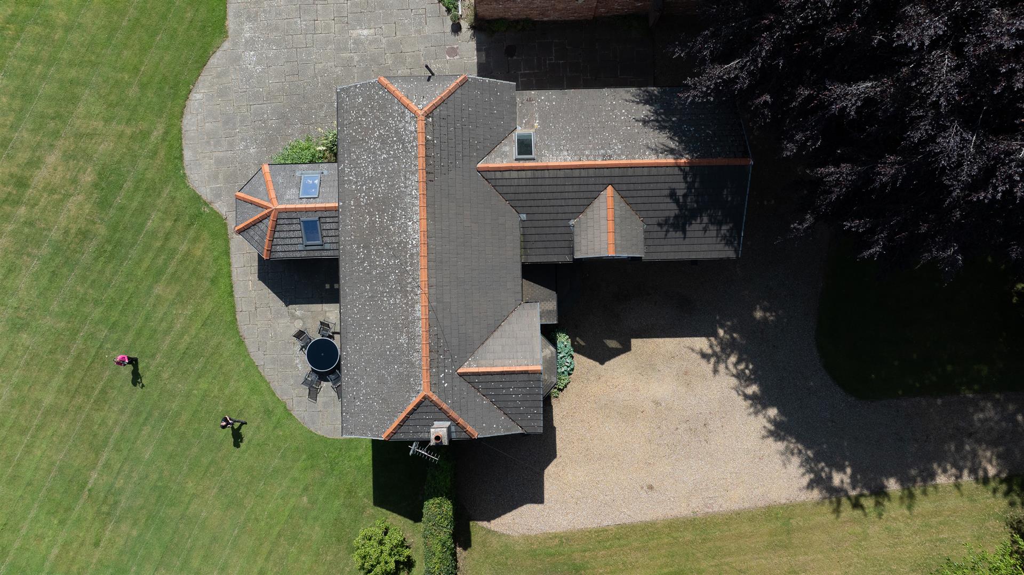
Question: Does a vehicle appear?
No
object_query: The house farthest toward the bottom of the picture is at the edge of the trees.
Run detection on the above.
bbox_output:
[233,63,752,447]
